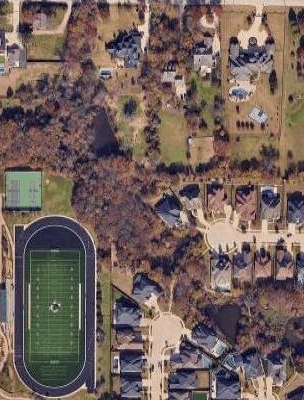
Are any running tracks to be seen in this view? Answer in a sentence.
Yes, a running track is visible in the scene.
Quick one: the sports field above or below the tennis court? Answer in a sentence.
The sports field appears below the tennis court in the picture.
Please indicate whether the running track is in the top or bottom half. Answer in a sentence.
You can find the running track in the bottom half.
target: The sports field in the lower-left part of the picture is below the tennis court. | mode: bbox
[24,251,85,386]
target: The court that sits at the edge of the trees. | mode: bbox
[5,172,42,211]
